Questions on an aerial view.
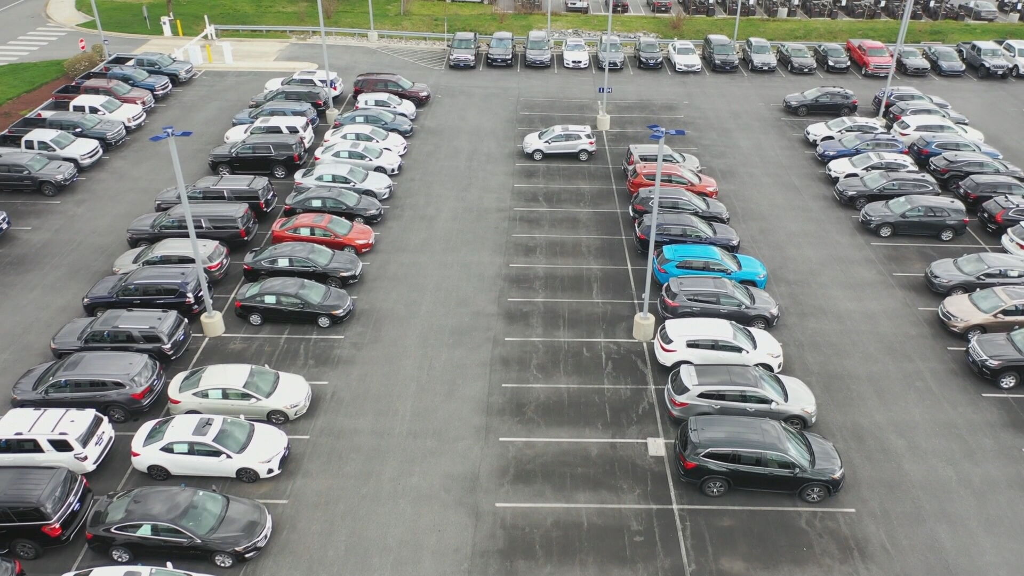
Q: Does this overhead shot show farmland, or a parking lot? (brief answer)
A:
parking lot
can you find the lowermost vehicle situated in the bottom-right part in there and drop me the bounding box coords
[672,417,848,503]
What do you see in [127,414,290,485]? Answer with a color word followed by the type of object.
white car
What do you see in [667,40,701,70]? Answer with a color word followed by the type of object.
white car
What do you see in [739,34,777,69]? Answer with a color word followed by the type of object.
gray car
